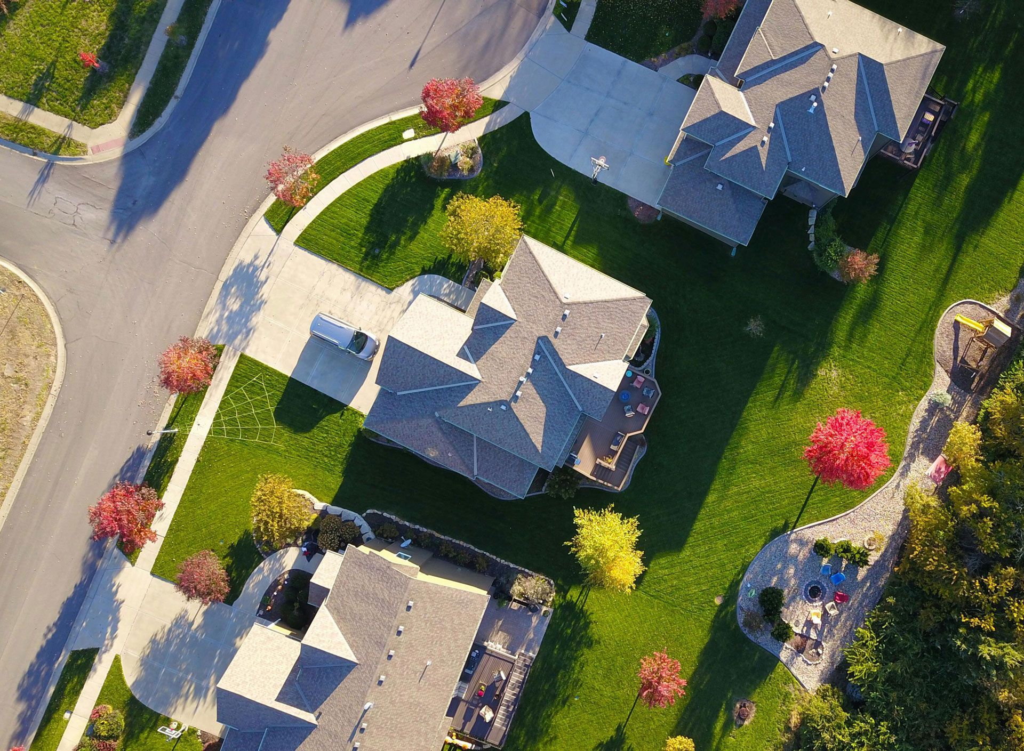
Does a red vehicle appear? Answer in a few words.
No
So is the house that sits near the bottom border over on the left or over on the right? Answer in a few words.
left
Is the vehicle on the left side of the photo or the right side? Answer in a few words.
left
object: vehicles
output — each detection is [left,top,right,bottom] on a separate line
[309,318,379,363]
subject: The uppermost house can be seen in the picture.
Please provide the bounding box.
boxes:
[653,0,946,266]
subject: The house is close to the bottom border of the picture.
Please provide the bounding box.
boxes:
[216,542,494,751]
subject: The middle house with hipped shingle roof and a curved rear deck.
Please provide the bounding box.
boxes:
[362,235,652,499]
